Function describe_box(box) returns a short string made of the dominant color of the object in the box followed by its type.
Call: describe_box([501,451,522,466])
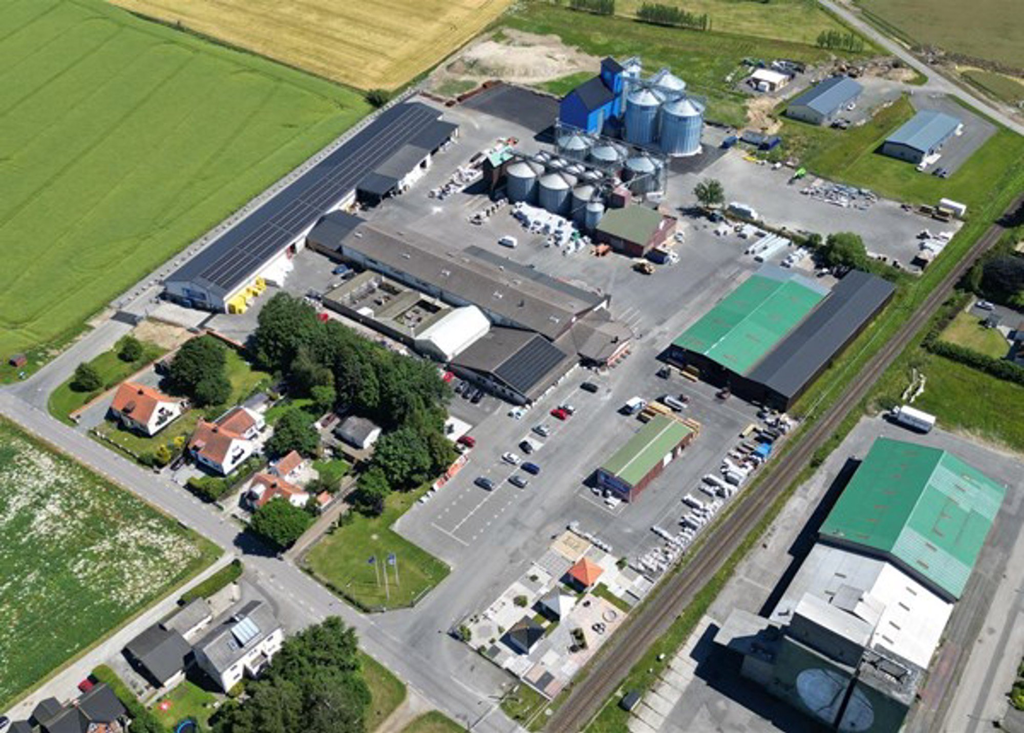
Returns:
white car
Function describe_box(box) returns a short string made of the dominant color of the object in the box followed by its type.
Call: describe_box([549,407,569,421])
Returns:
red car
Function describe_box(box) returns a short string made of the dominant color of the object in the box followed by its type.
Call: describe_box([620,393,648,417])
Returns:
white truck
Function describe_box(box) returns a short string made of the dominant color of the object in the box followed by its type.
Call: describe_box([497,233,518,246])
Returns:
white vehicle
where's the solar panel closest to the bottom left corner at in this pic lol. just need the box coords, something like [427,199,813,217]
[233,620,260,646]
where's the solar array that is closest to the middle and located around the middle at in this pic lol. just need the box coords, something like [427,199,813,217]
[489,336,564,391]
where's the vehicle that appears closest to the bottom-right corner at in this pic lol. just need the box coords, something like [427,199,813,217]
[889,404,941,435]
